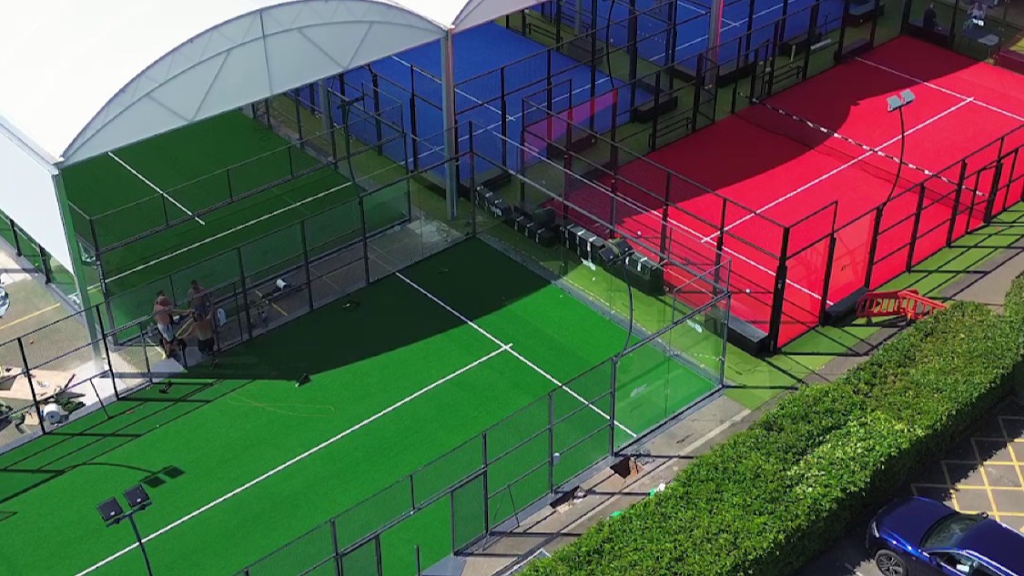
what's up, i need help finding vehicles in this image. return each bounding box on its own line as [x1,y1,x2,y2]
[868,495,1024,576]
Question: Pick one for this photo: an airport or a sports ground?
sports ground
